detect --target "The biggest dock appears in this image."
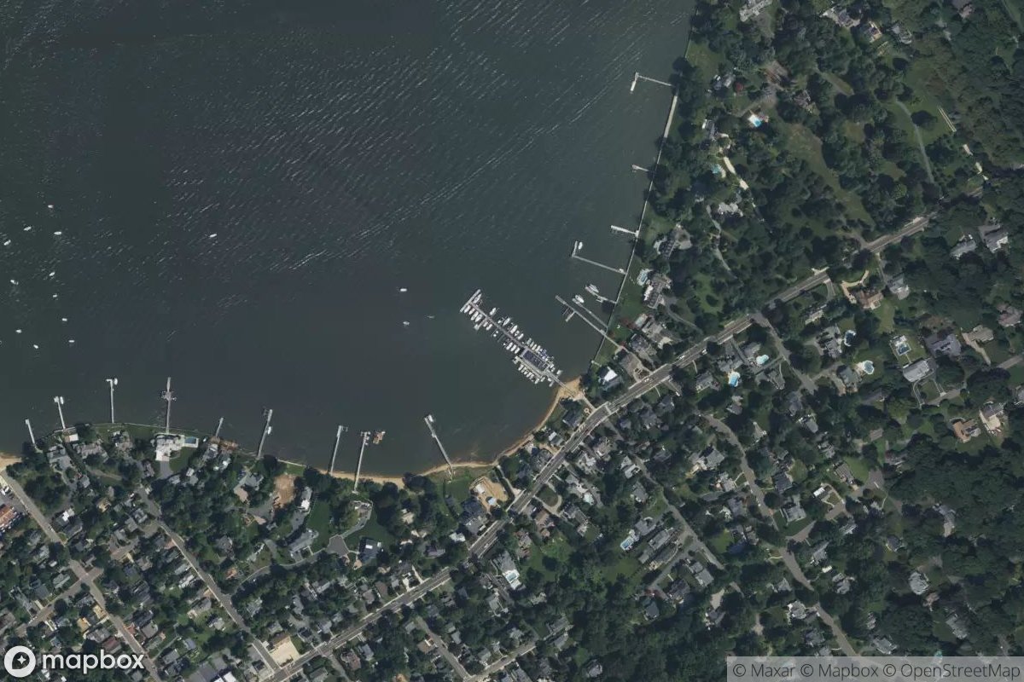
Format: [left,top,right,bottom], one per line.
[460,290,576,398]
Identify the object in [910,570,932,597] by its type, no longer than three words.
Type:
house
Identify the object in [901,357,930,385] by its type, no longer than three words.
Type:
house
